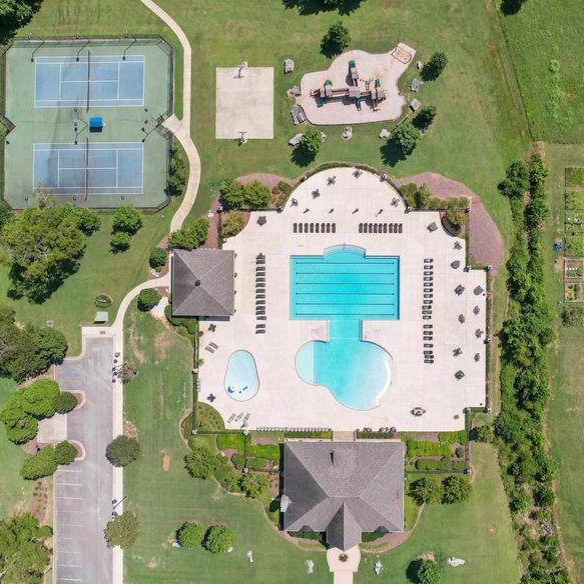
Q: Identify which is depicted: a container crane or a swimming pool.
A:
swimming pool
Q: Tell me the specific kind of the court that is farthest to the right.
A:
basketball court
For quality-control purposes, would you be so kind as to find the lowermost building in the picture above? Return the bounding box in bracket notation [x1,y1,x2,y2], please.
[279,441,404,551]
